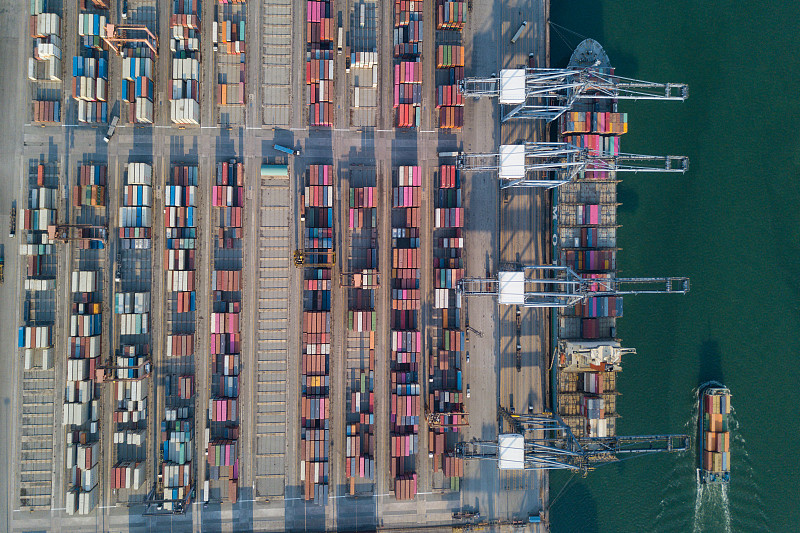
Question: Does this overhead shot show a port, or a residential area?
port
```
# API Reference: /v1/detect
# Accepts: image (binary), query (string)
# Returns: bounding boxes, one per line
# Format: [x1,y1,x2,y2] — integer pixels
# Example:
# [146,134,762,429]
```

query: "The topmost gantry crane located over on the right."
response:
[461,67,691,140]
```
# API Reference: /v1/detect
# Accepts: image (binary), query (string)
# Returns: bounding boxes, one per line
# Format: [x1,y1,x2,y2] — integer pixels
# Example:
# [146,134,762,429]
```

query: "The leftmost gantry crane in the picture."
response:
[46,223,110,245]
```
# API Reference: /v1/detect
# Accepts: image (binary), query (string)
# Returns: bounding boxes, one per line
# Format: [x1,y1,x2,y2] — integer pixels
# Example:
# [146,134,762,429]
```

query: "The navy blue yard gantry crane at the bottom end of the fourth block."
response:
[141,484,199,517]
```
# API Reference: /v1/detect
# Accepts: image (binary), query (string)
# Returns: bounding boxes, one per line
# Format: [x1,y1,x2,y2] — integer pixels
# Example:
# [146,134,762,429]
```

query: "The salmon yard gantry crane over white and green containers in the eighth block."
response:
[337,270,381,290]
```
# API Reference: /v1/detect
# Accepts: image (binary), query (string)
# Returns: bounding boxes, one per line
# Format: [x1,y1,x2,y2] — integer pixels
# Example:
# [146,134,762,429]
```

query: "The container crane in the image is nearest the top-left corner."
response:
[102,24,161,59]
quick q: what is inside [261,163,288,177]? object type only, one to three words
shed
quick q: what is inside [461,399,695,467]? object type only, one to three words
container crane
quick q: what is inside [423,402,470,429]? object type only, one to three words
container crane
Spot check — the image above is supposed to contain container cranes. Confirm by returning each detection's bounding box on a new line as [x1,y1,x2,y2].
[461,140,691,202]
[291,249,338,270]
[423,402,470,429]
[46,223,110,245]
[461,263,693,309]
[102,24,161,59]
[461,67,691,140]
[94,359,155,383]
[337,270,381,290]
[461,399,695,467]
[141,484,199,517]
